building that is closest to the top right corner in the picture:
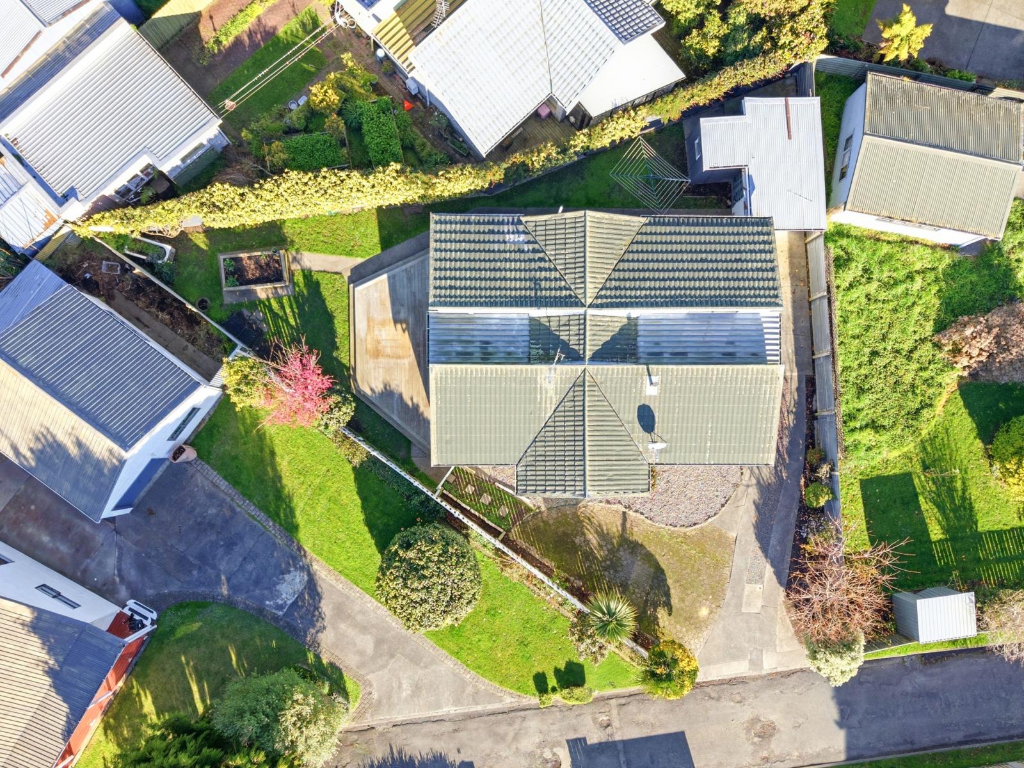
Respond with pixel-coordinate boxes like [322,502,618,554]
[832,69,1024,247]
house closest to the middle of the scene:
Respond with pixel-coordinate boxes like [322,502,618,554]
[428,209,785,499]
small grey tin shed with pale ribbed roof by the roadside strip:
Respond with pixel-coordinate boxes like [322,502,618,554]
[892,580,977,643]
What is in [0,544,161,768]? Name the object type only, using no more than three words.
house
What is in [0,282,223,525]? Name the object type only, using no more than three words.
house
